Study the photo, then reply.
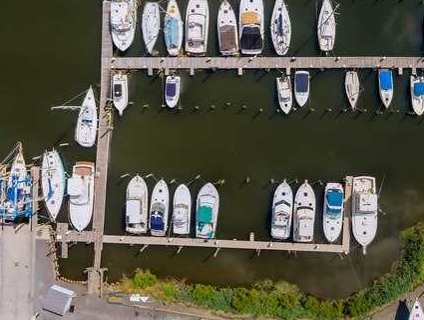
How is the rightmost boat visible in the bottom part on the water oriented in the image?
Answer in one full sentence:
I'd say the rightmost boat visible in the bottom part on the water is aligned from top to bottom in the picture.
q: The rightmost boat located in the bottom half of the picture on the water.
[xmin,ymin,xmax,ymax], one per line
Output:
[343,169,391,258]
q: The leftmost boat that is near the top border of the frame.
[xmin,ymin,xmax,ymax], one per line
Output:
[109,0,137,54]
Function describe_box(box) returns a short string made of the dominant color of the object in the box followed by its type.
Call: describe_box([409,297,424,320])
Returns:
white boat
